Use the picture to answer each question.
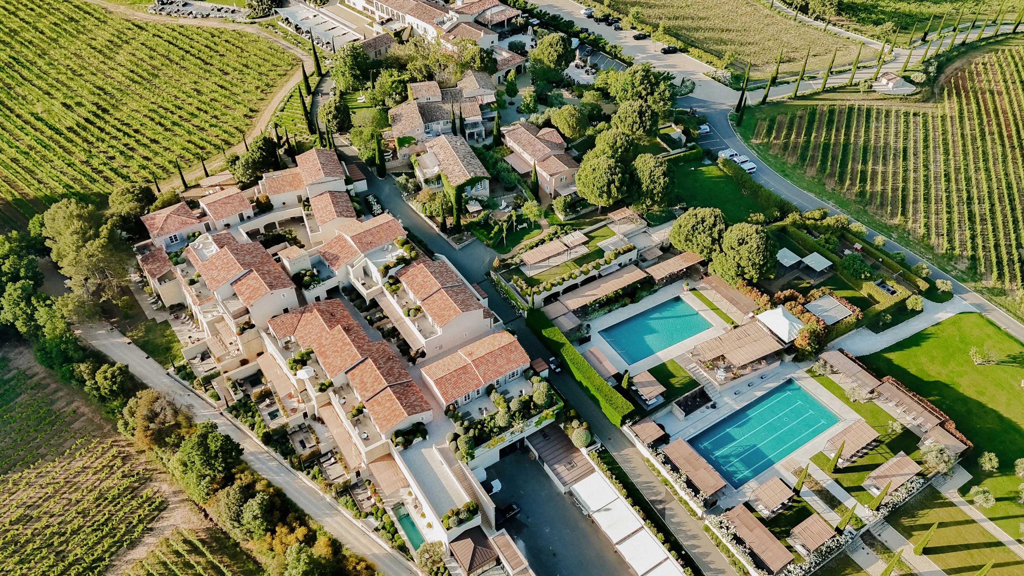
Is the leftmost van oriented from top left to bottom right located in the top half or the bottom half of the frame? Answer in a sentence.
The bottom half of the photo is where the leftmost van oriented from top left to bottom right is.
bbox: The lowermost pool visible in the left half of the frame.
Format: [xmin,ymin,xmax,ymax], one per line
[388,498,426,553]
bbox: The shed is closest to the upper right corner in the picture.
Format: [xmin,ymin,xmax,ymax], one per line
[877,71,910,92]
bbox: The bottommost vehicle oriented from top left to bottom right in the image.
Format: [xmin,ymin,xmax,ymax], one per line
[471,460,504,492]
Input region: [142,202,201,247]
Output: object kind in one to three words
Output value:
house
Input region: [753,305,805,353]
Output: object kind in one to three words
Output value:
tent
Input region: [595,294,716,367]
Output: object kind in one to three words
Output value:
swimming pool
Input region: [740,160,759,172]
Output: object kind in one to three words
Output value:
vehicle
